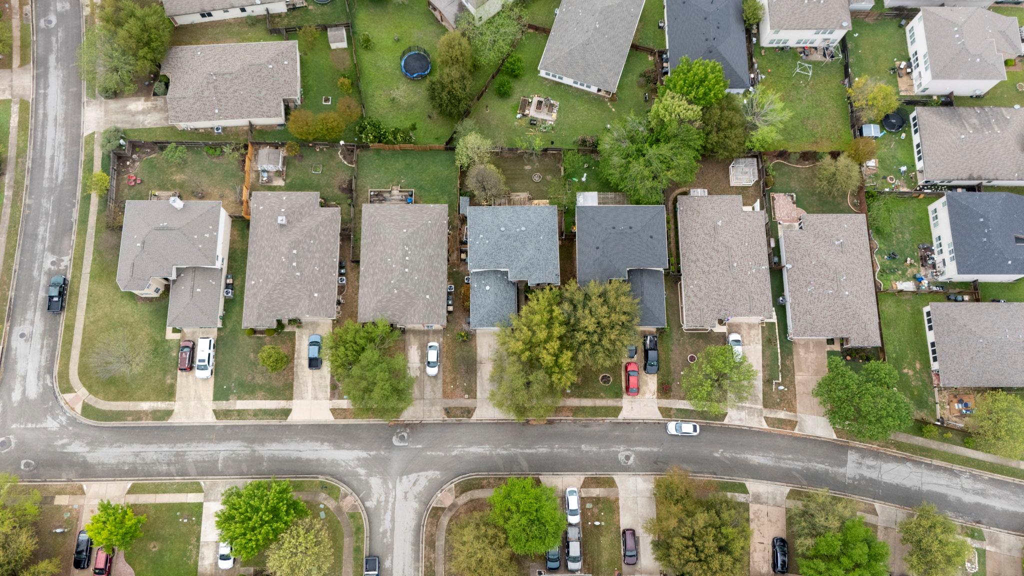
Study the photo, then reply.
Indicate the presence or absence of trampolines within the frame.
Yes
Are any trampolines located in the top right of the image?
Yes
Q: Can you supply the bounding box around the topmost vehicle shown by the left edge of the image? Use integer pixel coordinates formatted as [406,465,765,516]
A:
[47,275,69,315]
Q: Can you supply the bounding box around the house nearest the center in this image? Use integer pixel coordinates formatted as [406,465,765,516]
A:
[467,205,561,330]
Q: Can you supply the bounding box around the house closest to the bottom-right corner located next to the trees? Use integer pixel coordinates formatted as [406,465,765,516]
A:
[920,302,1024,388]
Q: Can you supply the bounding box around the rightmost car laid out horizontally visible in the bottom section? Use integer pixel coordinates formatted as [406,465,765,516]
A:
[665,420,701,436]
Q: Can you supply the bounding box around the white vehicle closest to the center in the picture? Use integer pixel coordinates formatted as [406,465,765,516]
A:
[424,342,441,377]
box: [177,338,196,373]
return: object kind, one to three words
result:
car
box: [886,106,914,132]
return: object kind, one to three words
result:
trampoline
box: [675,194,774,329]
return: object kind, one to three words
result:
house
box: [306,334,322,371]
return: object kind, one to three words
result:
vehicle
